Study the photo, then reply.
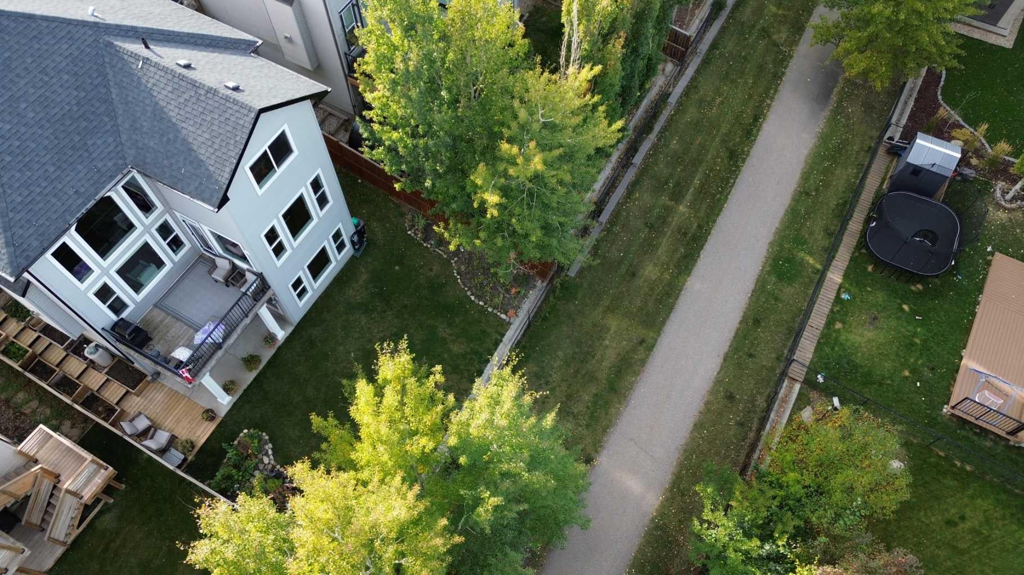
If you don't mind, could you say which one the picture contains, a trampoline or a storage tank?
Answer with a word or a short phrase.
trampoline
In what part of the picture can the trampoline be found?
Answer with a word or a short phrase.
right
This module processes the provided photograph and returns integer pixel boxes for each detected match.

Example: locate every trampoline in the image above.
[854,170,988,292]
